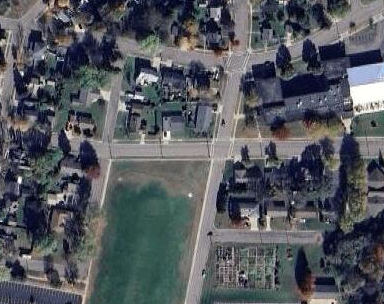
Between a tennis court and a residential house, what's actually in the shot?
residential house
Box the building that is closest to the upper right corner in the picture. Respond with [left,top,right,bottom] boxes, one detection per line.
[346,63,384,114]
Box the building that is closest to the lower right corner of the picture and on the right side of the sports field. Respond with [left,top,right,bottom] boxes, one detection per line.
[305,288,339,304]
